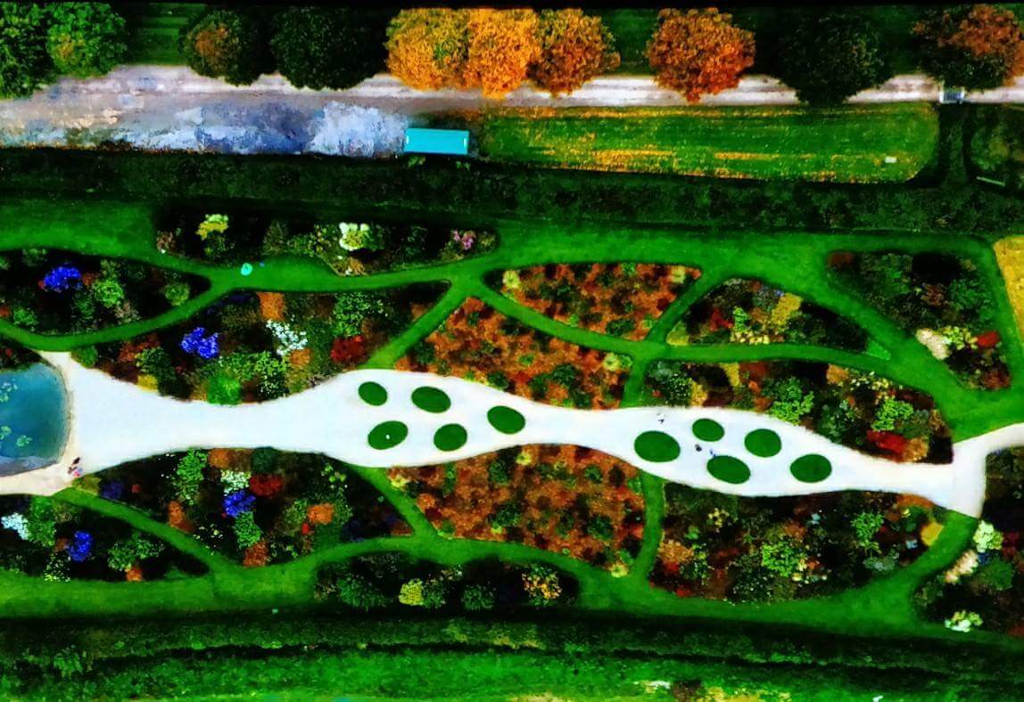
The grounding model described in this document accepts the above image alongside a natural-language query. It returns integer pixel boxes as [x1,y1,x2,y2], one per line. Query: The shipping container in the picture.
[403,126,471,159]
